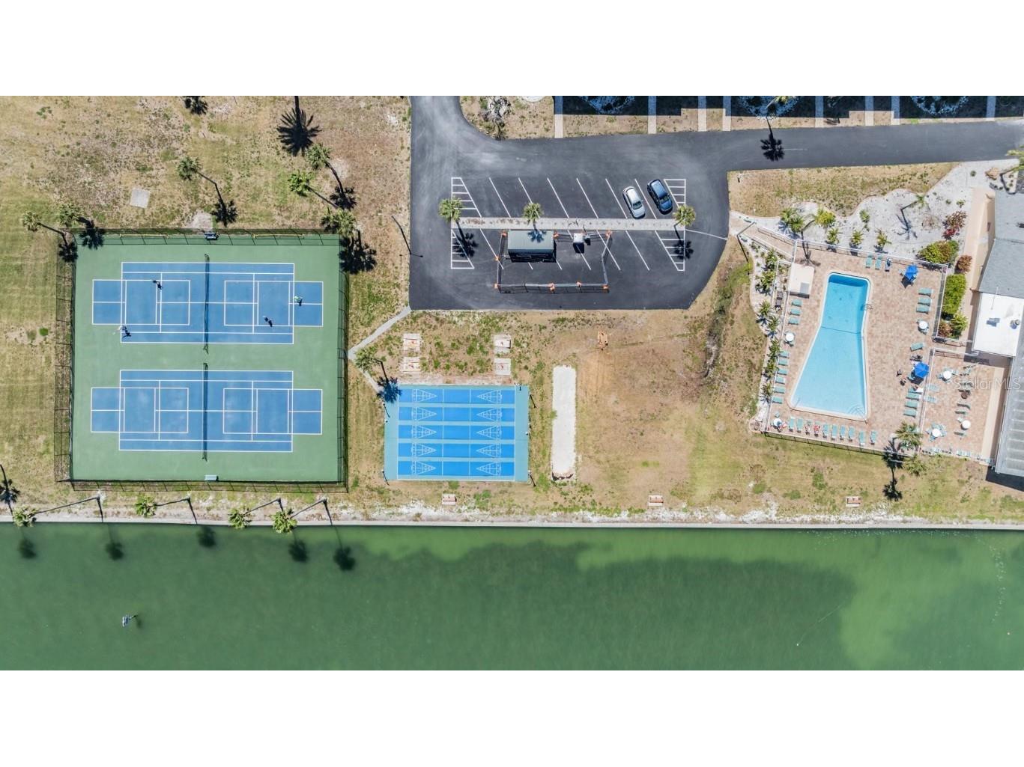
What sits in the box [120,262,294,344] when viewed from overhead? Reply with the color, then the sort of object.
blue tennis court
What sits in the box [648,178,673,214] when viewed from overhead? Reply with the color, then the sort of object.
blue car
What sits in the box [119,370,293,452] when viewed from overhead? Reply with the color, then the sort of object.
blue tennis court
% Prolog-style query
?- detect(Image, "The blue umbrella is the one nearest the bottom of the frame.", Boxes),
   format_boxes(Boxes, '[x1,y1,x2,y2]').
[912,361,930,379]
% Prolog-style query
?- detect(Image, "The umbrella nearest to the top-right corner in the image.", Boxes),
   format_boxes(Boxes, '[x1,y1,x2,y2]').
[901,263,919,282]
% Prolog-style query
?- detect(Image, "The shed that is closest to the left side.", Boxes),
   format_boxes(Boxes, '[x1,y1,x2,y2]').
[502,230,554,261]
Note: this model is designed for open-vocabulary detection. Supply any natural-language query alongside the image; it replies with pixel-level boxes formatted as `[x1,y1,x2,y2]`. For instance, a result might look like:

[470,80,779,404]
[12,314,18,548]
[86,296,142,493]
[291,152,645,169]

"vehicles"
[624,184,647,218]
[648,178,673,214]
